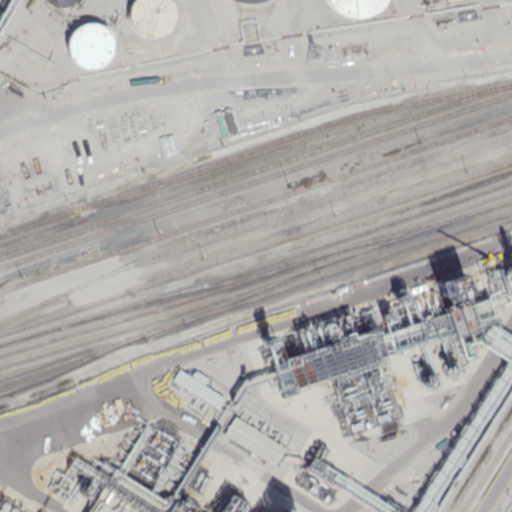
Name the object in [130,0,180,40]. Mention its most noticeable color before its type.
white storage tank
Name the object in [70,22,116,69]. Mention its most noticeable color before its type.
white storage tank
